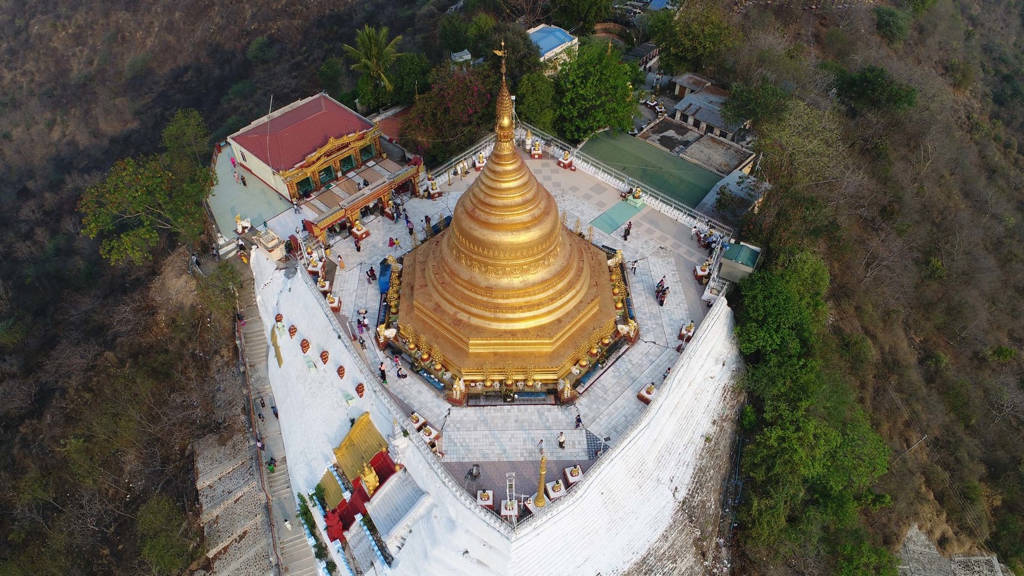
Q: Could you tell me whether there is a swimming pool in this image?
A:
No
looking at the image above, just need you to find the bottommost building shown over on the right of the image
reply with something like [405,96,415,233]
[719,233,766,325]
